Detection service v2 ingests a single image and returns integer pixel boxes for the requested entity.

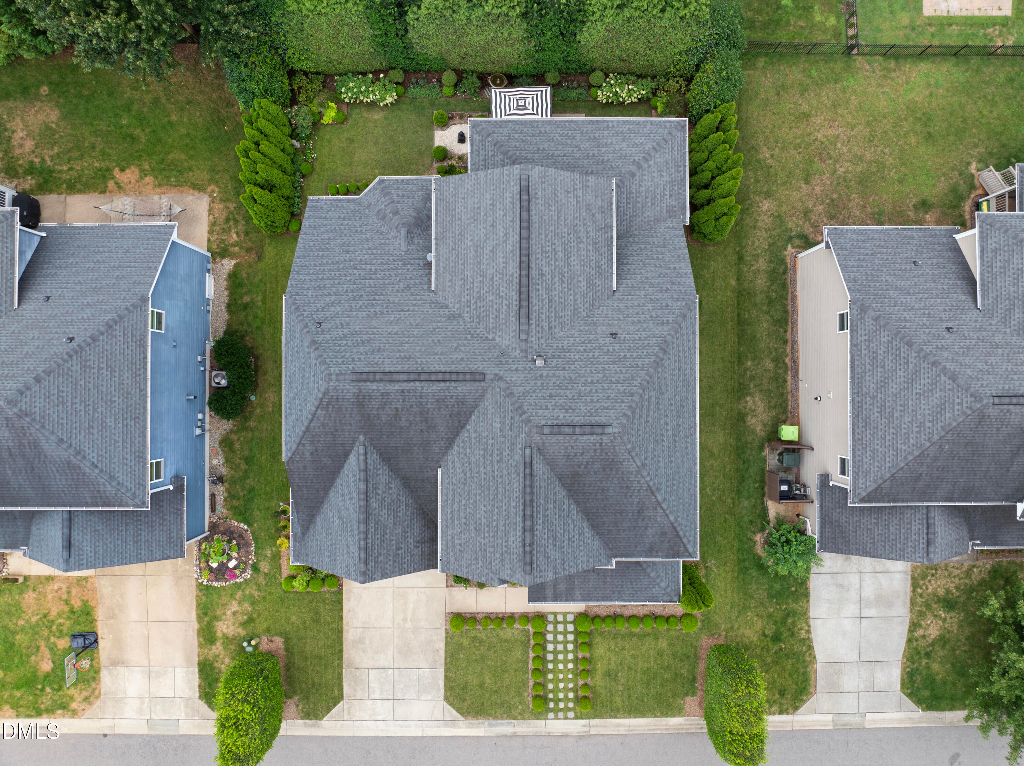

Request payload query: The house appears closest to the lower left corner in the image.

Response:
[0,206,211,573]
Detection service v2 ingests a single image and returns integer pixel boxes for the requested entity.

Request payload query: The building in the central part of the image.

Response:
[282,116,700,606]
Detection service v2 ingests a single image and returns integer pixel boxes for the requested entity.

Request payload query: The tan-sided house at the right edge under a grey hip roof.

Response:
[790,162,1024,564]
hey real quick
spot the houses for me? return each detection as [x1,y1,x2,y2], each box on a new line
[0,206,211,573]
[790,162,1024,564]
[282,116,700,606]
